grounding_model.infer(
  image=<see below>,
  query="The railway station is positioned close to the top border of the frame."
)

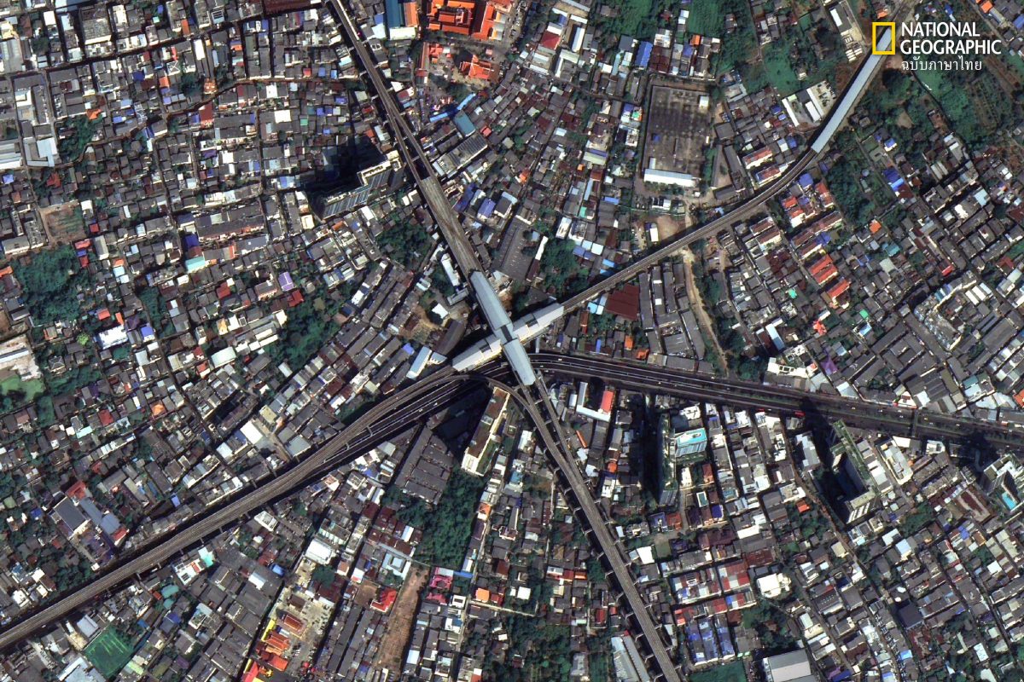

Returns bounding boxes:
[811,29,895,151]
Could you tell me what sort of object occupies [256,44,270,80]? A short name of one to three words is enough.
house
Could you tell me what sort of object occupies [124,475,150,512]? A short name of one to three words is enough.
house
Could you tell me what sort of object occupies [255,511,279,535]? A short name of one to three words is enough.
building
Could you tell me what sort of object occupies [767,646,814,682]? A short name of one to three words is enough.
building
